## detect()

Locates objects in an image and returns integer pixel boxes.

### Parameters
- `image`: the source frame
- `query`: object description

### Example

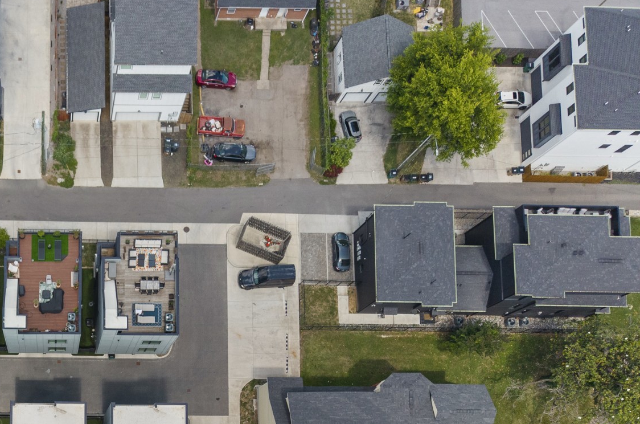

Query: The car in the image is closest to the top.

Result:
[195,68,237,92]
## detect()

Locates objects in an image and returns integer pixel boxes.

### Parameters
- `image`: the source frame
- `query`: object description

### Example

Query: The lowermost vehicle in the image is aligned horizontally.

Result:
[238,263,297,290]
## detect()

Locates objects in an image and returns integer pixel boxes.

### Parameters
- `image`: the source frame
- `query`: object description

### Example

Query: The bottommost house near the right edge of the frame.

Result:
[461,204,640,318]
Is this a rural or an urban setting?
urban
